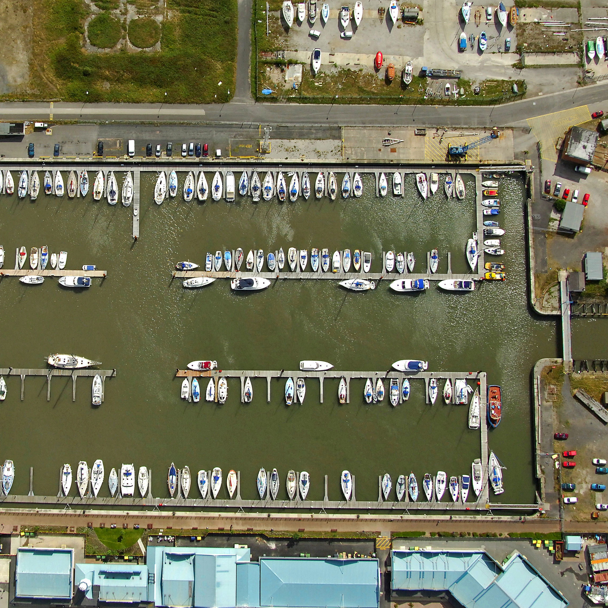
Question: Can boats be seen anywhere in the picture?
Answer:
Yes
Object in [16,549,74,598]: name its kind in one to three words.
building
